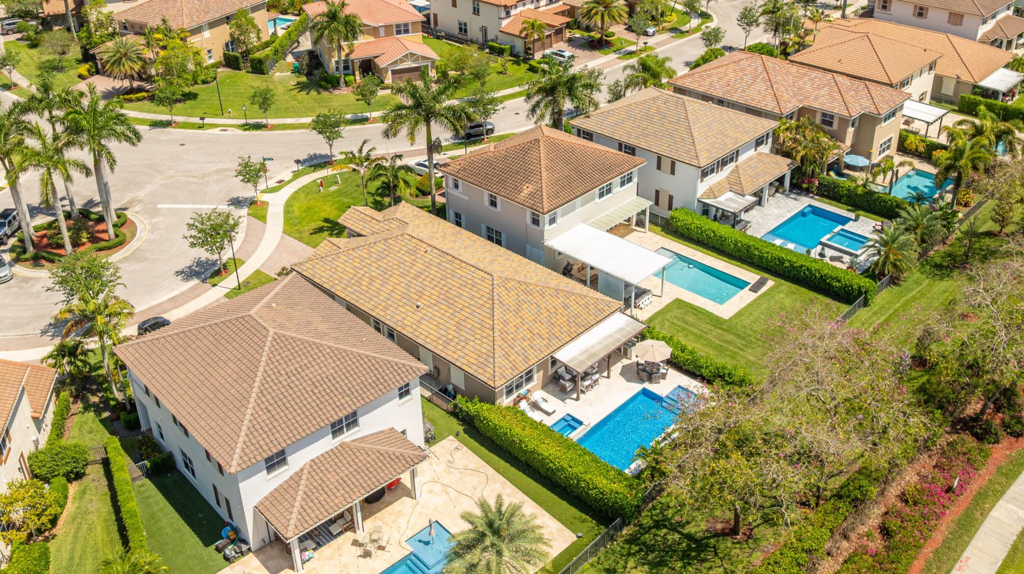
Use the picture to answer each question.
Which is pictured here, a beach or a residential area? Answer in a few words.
residential area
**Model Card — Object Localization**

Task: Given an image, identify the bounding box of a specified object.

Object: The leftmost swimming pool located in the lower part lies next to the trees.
[383,521,478,574]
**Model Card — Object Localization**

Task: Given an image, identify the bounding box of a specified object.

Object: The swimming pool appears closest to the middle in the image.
[552,413,584,435]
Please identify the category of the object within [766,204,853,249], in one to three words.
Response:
swimming pool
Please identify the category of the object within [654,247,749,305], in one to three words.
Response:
swimming pool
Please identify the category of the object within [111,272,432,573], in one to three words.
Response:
house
